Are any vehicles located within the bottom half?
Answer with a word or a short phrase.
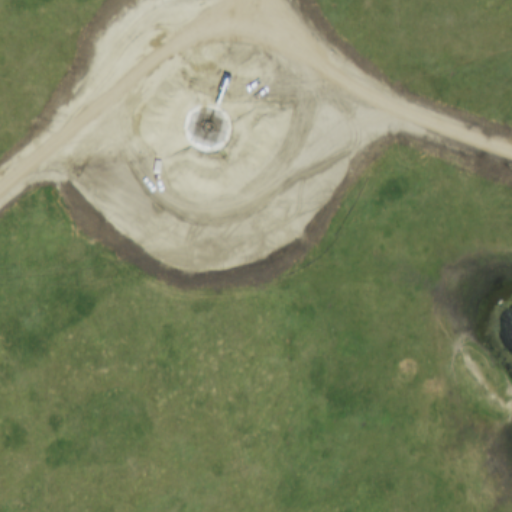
No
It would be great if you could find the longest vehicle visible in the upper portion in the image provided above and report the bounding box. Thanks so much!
[214,71,232,106]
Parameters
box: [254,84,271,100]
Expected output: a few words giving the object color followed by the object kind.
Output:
white vehicle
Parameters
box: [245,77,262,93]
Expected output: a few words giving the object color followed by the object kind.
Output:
white vehicle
